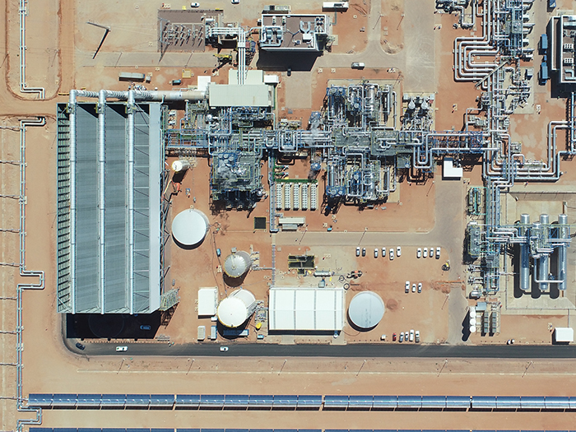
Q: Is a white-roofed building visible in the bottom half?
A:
Yes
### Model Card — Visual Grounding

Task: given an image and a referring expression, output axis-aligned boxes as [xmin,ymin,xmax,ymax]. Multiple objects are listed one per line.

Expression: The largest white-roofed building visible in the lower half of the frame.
[269,287,343,331]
